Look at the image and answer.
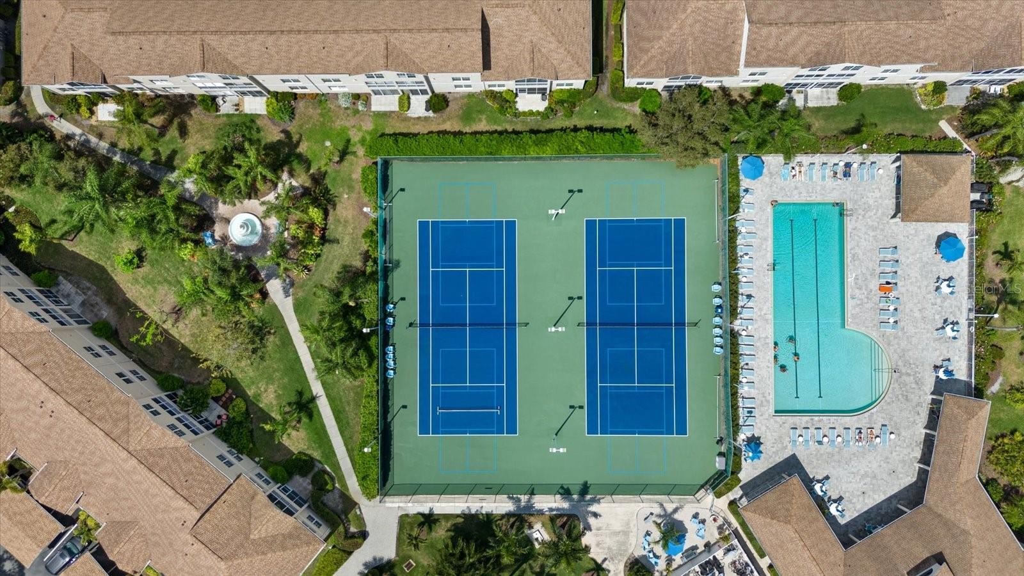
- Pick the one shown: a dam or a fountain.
fountain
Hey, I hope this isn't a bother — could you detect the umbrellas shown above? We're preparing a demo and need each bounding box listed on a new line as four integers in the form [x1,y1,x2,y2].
[664,530,689,555]
[741,436,763,463]
[738,156,763,180]
[937,237,961,261]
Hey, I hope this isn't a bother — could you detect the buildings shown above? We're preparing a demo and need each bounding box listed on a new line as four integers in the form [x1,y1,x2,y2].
[622,0,1024,92]
[0,256,330,576]
[887,154,971,224]
[742,394,1024,576]
[21,0,592,98]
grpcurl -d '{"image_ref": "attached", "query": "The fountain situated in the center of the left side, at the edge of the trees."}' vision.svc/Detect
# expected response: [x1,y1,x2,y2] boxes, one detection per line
[228,212,265,248]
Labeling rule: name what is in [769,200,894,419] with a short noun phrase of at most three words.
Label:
swimming pool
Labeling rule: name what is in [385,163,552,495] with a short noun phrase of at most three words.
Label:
tennis court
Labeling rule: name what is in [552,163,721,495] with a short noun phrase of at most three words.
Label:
tennis court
